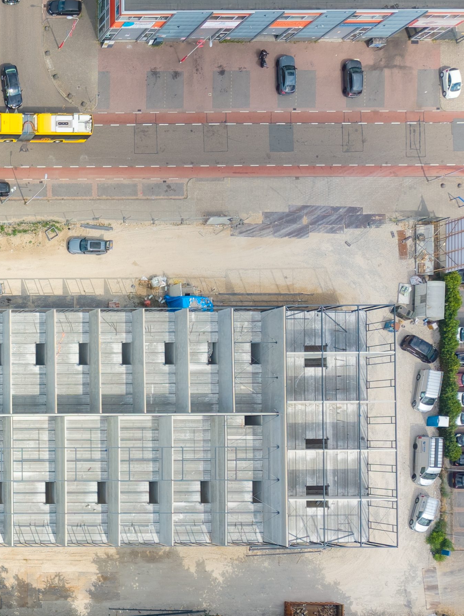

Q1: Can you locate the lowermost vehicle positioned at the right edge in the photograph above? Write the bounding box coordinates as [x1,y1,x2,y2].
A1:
[408,495,442,532]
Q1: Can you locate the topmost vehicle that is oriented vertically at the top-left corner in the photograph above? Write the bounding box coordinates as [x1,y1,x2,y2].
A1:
[0,65,23,109]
